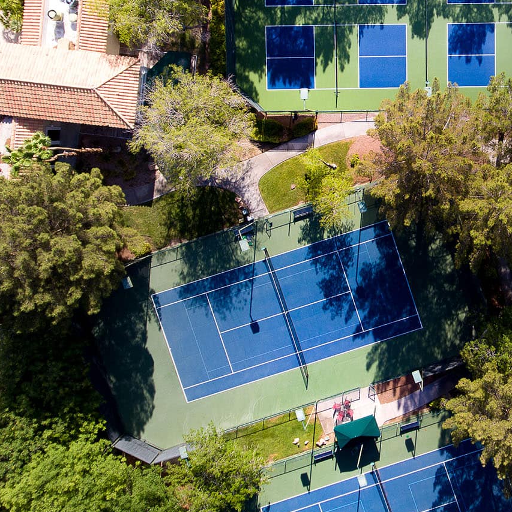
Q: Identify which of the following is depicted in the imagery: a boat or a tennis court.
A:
tennis court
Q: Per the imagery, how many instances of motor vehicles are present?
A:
0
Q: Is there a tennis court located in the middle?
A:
Yes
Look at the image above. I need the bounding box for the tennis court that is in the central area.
[82,168,488,451]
